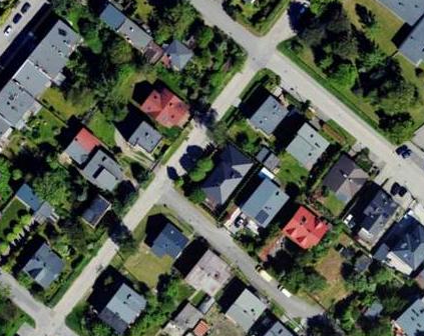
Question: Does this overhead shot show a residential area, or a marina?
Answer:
residential area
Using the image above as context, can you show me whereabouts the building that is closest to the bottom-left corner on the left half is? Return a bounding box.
[24,244,64,288]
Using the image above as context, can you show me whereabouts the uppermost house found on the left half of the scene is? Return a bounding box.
[101,3,125,30]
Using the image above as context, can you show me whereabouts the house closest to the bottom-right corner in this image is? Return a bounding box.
[395,298,424,336]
